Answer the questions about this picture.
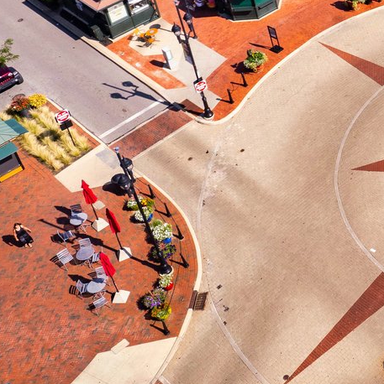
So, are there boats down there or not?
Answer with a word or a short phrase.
No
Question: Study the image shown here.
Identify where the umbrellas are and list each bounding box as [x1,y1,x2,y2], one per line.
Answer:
[109,220,137,263]
[84,171,111,213]
[105,261,135,307]
[84,189,111,232]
